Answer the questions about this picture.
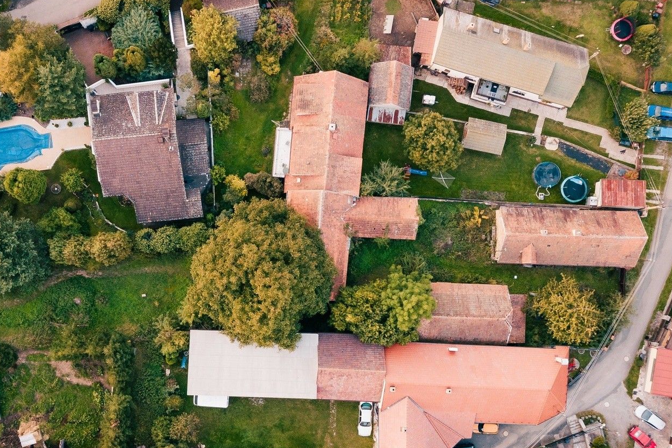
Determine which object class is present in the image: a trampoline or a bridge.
trampoline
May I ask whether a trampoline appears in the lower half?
No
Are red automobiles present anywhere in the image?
Yes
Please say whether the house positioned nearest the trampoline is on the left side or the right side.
right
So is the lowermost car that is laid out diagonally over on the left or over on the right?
right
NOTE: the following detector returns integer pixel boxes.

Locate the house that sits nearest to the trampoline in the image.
[433,6,589,108]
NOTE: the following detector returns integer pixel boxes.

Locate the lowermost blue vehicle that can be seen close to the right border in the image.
[645,125,672,142]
